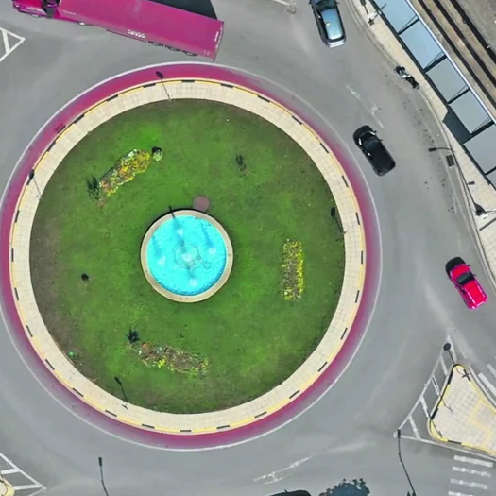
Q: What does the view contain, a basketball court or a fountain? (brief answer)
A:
fountain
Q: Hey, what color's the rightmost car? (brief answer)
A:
red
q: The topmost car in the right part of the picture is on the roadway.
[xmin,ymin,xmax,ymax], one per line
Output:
[309,0,346,48]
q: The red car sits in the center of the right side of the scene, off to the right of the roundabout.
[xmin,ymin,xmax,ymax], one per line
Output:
[450,261,490,311]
